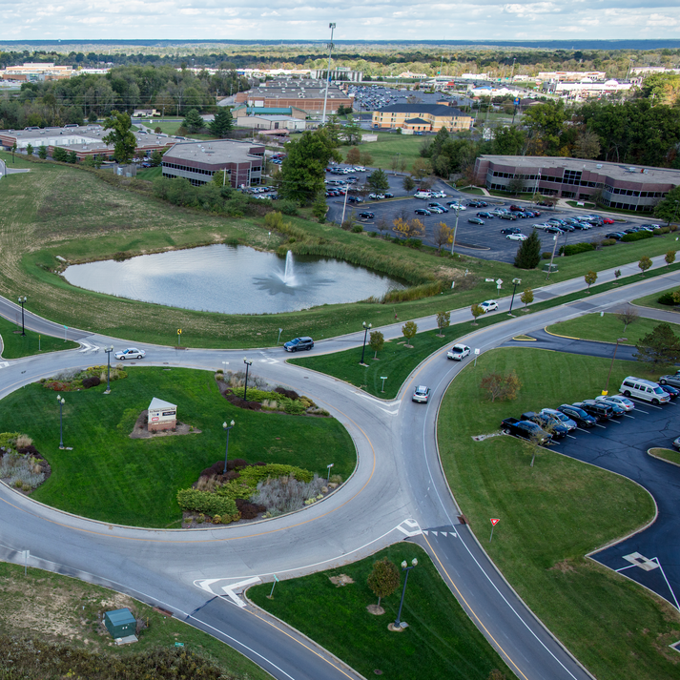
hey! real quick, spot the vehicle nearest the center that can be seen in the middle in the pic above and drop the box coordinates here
[283,333,315,350]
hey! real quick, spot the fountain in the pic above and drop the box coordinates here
[266,246,315,291]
